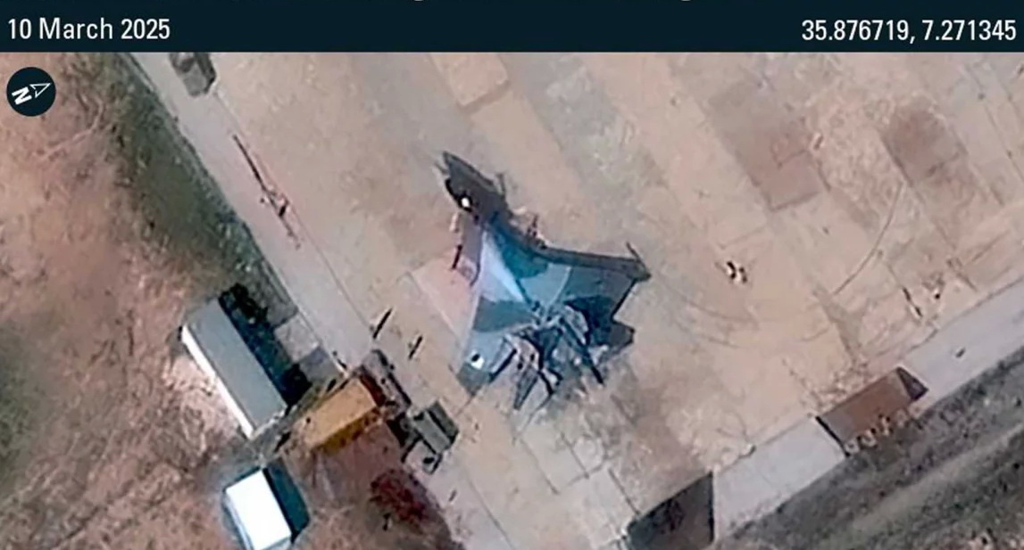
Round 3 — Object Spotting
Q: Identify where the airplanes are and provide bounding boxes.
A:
[439,160,645,422]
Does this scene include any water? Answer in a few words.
No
